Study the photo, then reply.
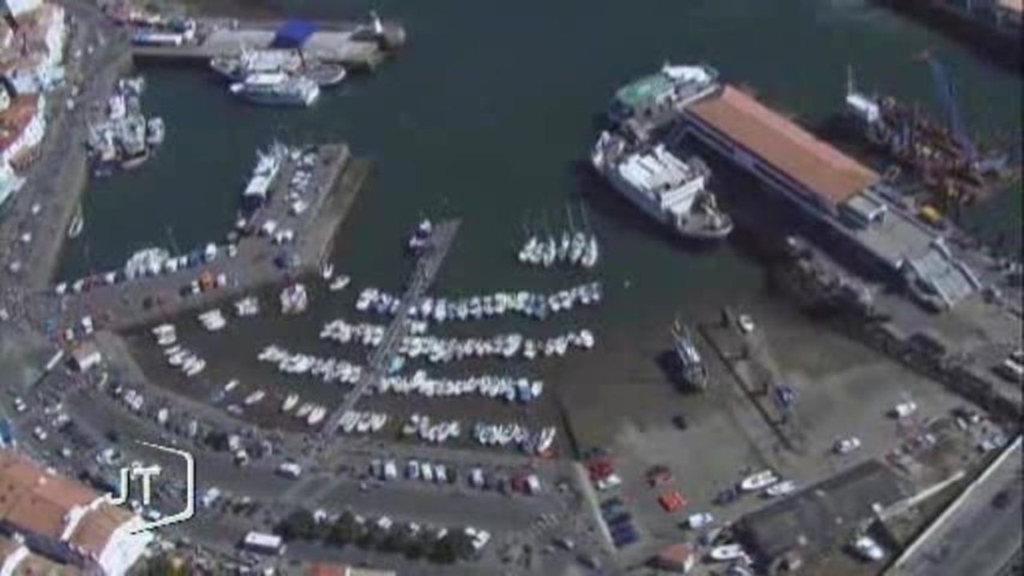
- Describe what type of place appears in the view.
port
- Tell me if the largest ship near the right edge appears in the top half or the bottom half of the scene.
top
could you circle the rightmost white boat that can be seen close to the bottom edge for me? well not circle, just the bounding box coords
[850,533,886,557]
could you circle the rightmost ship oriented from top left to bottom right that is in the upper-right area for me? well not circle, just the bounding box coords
[845,65,1008,206]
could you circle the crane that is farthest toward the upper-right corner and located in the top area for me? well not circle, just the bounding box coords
[921,52,985,173]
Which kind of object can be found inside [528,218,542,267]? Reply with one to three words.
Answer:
boat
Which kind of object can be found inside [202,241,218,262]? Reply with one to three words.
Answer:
vehicle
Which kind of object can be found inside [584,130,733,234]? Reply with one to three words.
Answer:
ship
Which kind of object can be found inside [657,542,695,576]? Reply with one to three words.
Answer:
shed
